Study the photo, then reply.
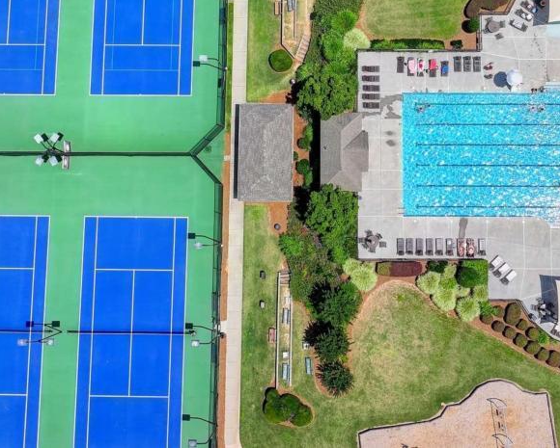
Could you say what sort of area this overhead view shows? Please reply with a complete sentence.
It's a sports ground.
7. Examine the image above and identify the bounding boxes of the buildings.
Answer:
[236,103,292,201]
[320,112,370,192]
